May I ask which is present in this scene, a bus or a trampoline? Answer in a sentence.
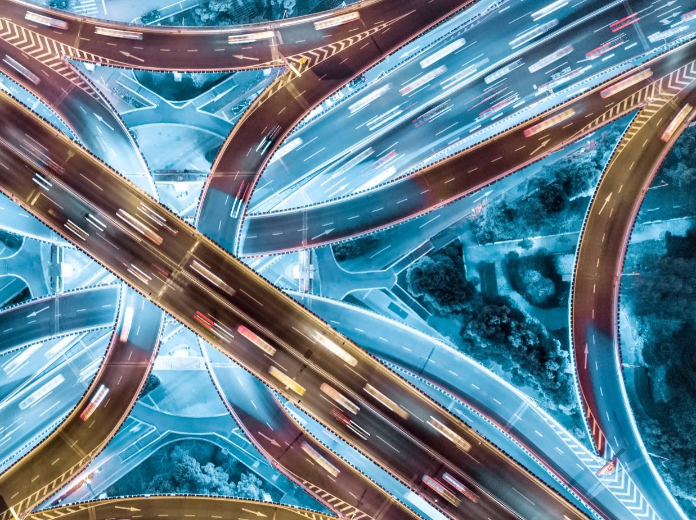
Visible in the photo is a bus.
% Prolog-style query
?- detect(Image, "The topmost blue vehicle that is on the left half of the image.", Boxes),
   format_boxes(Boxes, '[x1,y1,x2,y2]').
[139,9,162,23]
